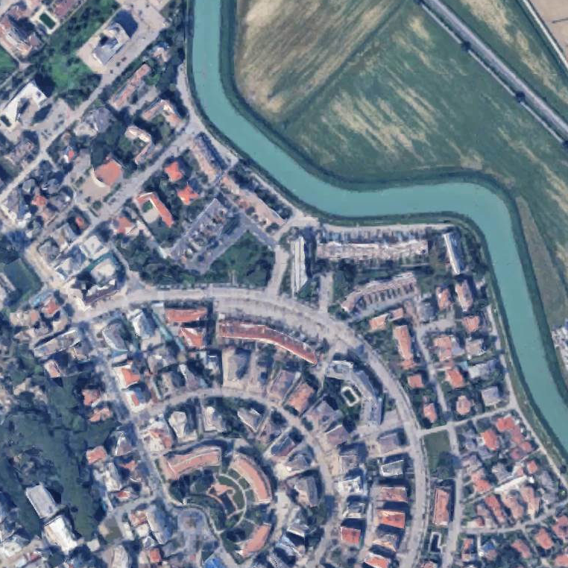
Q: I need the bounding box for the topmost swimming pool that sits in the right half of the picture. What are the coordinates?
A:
[341,388,359,406]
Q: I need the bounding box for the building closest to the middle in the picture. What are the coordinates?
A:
[287,235,306,292]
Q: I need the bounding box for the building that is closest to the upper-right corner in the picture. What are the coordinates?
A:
[437,230,464,274]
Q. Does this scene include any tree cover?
Yes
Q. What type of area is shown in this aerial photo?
residential area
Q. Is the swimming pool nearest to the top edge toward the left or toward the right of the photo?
left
